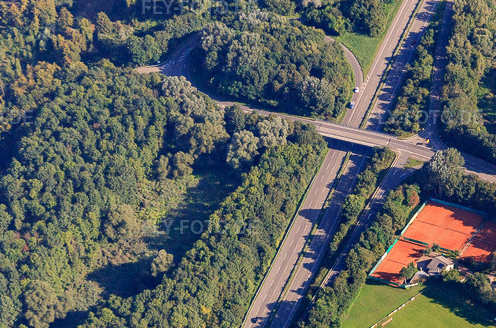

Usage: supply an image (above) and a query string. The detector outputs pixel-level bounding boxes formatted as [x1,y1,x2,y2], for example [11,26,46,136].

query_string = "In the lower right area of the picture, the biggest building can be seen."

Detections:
[429,254,454,277]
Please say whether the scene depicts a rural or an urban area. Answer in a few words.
rural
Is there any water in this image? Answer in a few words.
No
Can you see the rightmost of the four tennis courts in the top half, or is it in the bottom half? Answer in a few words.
bottom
